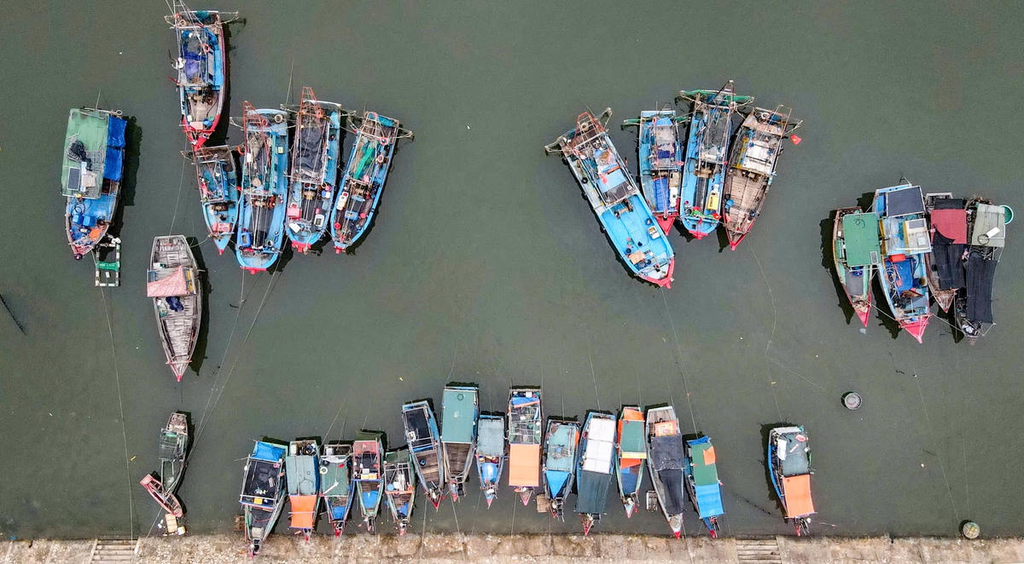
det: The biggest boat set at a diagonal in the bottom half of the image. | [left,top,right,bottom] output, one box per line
[139,474,183,520]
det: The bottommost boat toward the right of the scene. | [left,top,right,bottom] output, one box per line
[959,520,979,539]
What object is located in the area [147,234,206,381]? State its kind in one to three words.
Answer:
boat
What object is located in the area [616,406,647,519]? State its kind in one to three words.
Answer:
boat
